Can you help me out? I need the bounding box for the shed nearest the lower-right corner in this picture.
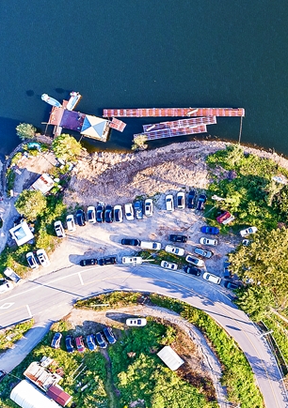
[156,346,187,371]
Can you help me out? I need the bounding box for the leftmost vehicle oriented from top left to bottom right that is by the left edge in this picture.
[0,267,20,284]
